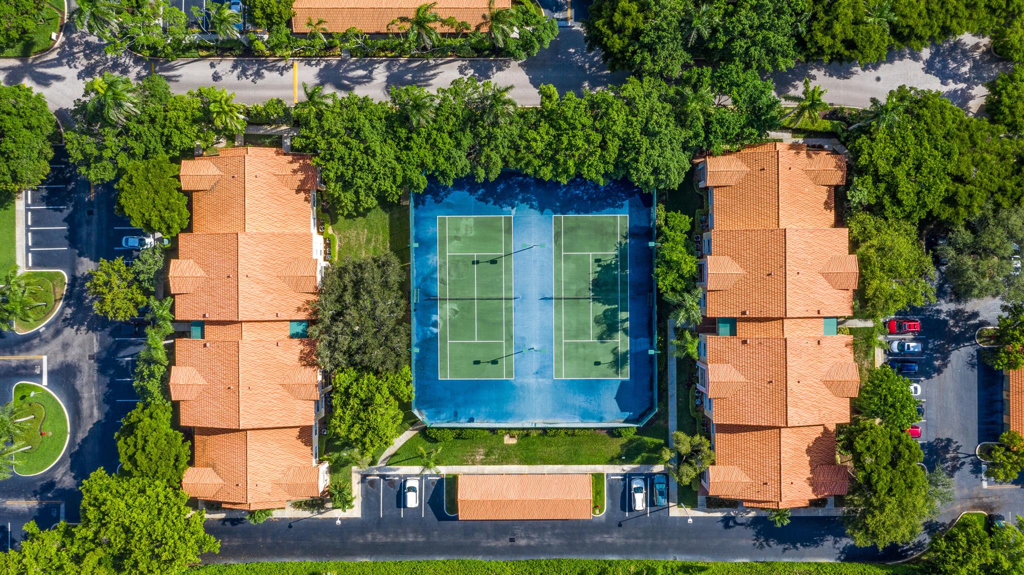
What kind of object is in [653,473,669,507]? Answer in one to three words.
car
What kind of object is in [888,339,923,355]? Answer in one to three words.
car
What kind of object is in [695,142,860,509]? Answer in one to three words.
building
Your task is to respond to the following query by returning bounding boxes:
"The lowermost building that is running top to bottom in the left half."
[168,147,330,510]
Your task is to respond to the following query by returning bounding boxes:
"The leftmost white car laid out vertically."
[404,477,419,508]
